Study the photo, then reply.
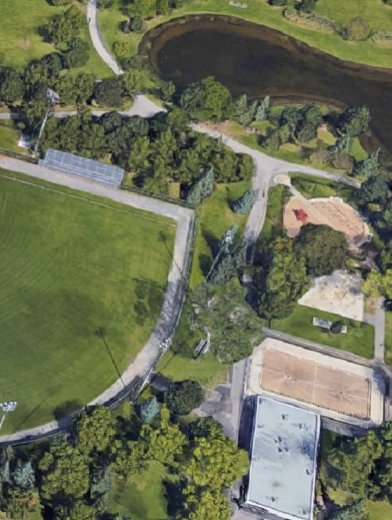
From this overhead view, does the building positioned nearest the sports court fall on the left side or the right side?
right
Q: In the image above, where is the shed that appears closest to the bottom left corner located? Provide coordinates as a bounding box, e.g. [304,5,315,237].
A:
[147,370,173,394]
